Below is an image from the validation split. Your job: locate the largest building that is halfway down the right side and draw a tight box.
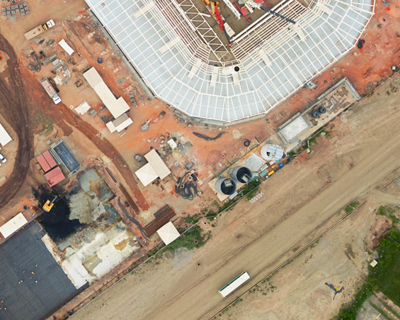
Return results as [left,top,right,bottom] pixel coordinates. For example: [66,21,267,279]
[280,116,309,143]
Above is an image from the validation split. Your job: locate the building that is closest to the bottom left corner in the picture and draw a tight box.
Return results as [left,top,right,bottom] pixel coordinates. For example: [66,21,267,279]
[0,213,27,238]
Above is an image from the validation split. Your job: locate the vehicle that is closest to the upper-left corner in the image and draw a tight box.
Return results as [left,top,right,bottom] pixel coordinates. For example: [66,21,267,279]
[23,20,55,39]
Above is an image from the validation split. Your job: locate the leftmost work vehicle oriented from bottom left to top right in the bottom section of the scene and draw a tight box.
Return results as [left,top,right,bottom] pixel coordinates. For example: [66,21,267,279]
[42,194,61,213]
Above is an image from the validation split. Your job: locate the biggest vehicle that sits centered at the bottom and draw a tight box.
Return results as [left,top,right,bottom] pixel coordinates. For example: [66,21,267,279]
[216,269,249,297]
